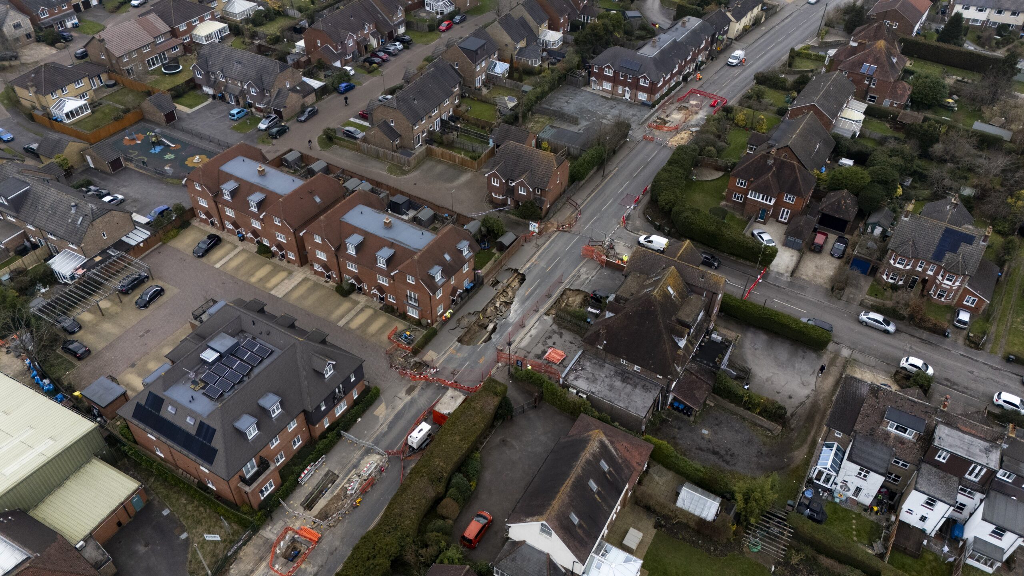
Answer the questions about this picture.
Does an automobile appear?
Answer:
Yes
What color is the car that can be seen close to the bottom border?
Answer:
red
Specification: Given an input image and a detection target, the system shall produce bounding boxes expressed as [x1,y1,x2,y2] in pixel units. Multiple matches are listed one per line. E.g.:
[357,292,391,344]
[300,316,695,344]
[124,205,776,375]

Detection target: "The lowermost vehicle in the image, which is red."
[462,509,495,549]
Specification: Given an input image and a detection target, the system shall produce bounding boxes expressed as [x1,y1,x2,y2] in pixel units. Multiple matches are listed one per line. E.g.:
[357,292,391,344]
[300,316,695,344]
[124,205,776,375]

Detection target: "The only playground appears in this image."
[112,122,215,180]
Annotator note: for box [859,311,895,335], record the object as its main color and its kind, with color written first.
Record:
gray car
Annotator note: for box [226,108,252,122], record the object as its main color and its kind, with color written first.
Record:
blue car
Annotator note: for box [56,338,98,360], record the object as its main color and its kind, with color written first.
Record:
black car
